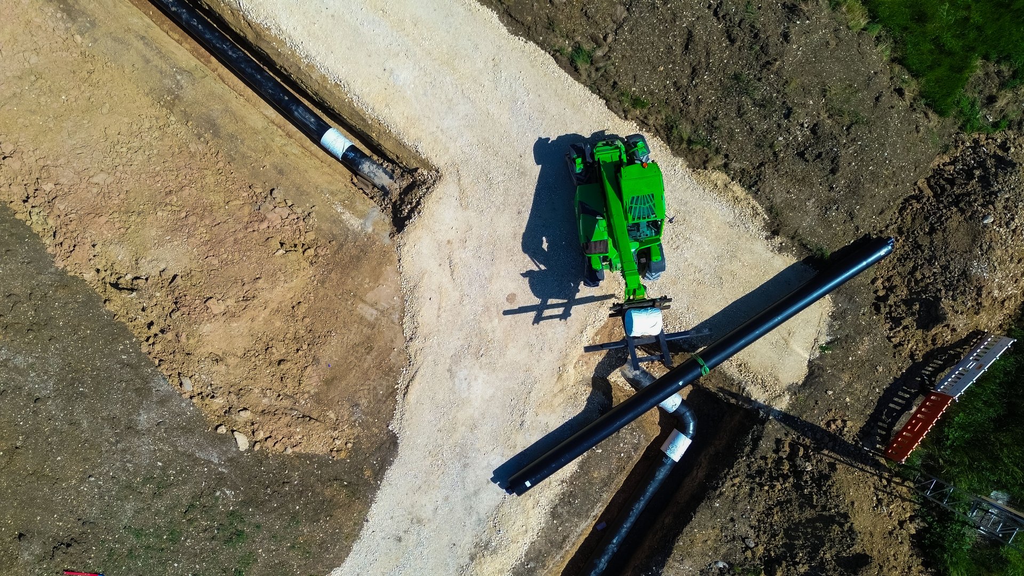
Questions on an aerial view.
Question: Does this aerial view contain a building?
No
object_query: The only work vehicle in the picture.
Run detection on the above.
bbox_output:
[565,130,676,371]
